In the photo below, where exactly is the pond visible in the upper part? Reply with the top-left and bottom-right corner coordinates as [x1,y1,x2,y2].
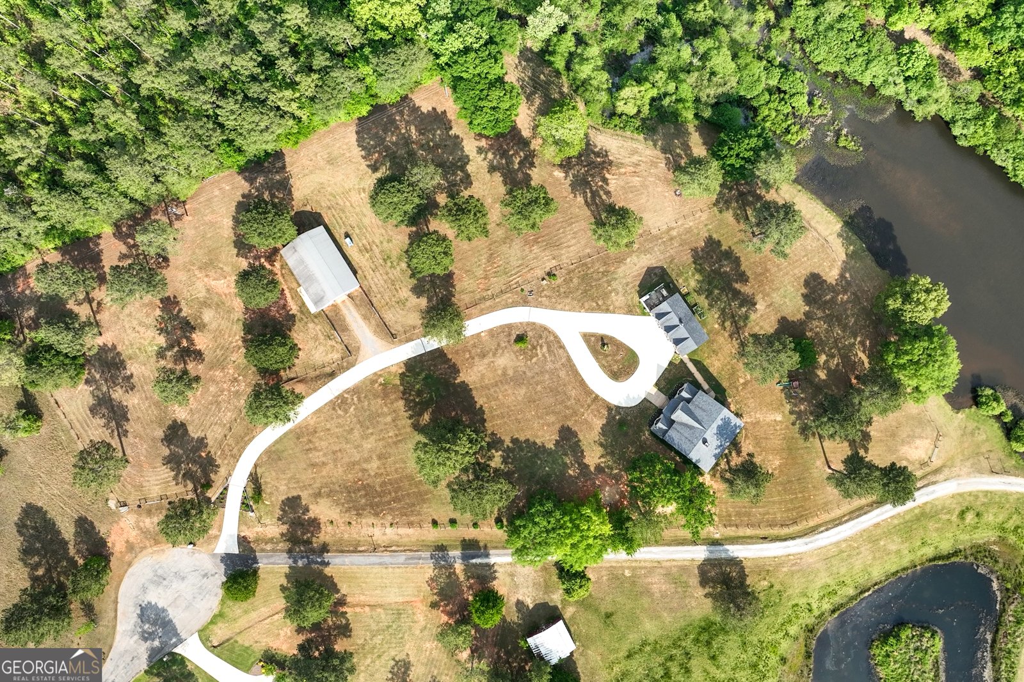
[758,0,1024,458]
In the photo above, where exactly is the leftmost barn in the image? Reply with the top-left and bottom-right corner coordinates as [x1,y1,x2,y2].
[280,225,361,314]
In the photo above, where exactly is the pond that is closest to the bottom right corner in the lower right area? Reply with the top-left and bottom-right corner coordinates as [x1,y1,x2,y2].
[806,560,997,682]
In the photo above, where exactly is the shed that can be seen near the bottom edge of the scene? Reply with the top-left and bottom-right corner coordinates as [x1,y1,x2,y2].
[527,617,576,665]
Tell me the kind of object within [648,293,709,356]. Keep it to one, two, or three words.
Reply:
building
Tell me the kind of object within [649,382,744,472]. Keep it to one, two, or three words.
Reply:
house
